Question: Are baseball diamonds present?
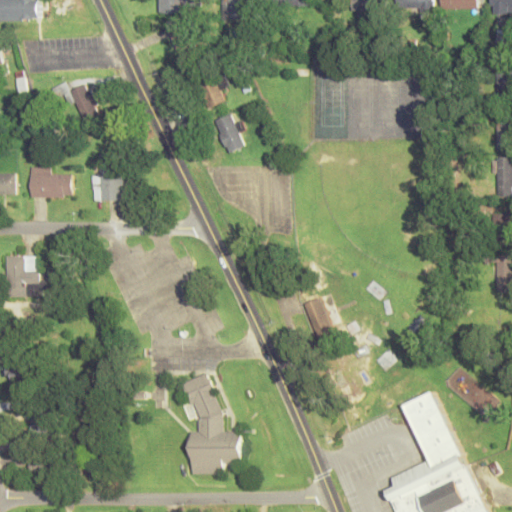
Yes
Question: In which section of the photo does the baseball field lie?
right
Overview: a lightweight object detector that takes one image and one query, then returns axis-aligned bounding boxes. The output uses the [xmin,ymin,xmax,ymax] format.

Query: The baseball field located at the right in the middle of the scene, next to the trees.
[318,143,430,281]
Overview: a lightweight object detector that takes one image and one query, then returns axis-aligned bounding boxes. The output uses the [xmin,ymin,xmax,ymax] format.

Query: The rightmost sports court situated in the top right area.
[348,66,426,140]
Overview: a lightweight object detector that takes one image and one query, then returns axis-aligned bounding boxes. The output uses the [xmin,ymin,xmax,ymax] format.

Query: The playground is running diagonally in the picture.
[446,367,499,406]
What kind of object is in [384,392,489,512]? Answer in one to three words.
building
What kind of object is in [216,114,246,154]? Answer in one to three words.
house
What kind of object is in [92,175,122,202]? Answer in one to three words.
house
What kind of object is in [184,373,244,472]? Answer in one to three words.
building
